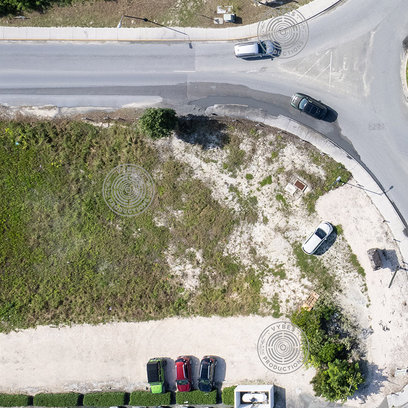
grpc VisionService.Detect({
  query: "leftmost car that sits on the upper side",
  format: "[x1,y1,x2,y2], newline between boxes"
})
[234,42,281,60]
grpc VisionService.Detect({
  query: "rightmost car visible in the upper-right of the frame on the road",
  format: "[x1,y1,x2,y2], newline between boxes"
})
[290,92,329,121]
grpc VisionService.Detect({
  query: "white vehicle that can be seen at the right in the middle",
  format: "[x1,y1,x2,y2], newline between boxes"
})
[301,220,334,257]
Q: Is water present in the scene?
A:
No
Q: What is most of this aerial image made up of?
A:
paved ground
